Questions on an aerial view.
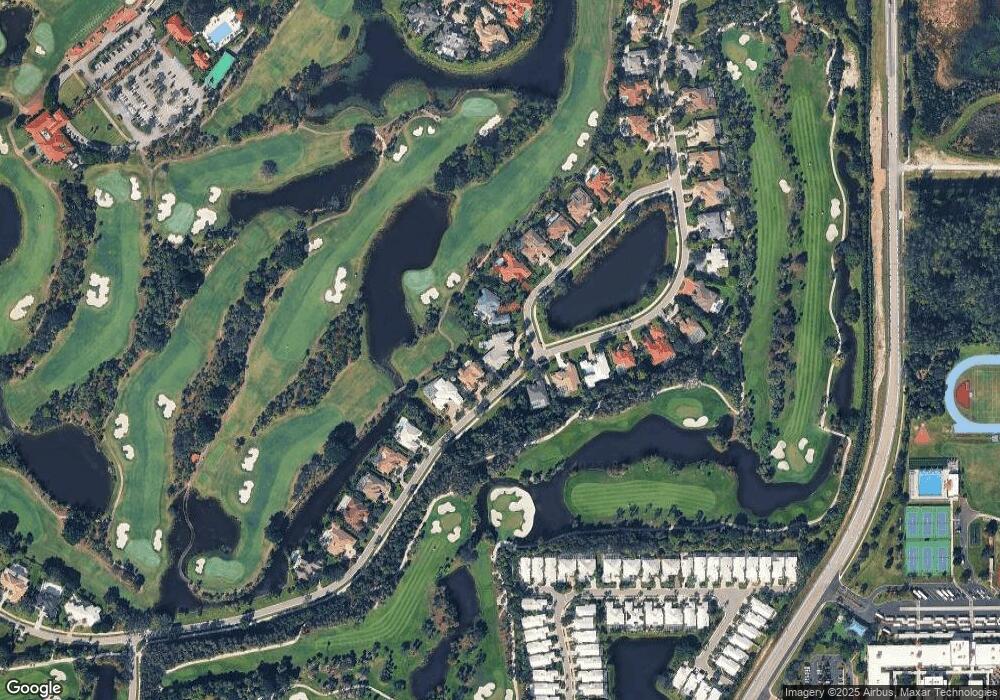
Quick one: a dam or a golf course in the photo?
golf course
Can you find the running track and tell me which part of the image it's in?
right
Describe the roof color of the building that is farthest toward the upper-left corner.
red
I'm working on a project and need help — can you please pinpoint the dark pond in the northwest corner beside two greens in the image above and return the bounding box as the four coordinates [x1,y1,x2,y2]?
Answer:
[0,5,33,67]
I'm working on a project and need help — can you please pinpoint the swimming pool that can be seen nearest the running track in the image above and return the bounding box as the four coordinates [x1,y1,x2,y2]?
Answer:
[909,469,951,503]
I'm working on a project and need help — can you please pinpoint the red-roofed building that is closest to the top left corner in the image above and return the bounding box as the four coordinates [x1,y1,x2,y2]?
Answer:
[25,105,70,164]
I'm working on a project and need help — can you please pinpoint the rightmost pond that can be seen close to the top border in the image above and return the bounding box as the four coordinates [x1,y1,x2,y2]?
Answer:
[305,0,577,120]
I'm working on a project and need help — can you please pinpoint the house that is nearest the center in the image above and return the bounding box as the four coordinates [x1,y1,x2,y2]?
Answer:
[478,330,515,371]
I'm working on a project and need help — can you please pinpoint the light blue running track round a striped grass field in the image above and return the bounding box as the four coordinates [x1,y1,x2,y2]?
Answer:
[945,354,1000,432]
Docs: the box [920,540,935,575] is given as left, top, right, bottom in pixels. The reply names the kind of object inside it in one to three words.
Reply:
tennis court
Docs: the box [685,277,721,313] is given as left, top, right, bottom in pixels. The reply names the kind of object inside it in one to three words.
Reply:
house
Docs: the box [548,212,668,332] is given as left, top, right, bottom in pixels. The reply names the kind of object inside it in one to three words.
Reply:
pond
